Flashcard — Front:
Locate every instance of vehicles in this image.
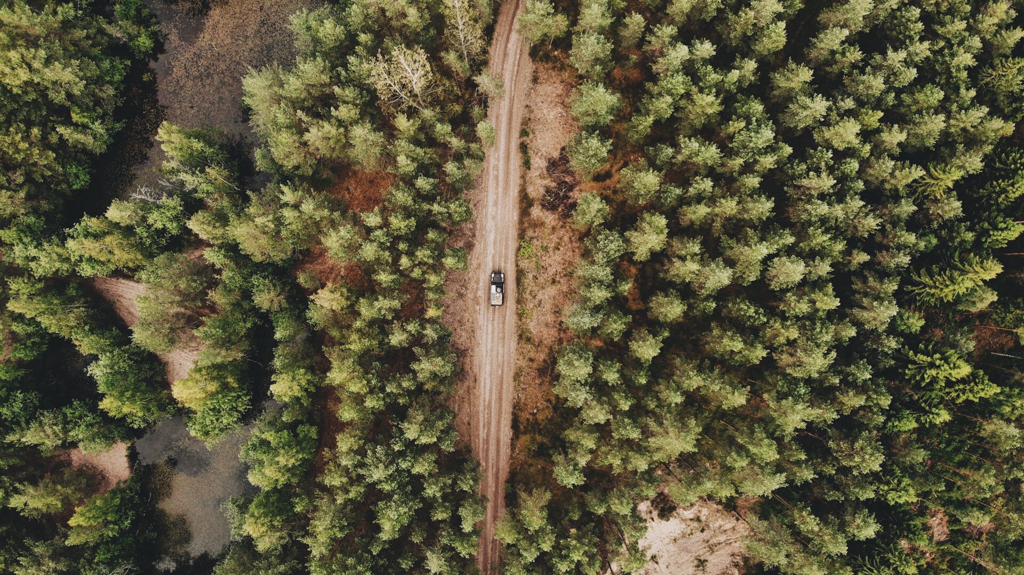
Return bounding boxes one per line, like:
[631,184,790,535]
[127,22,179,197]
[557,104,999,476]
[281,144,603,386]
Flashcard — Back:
[490,271,505,307]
